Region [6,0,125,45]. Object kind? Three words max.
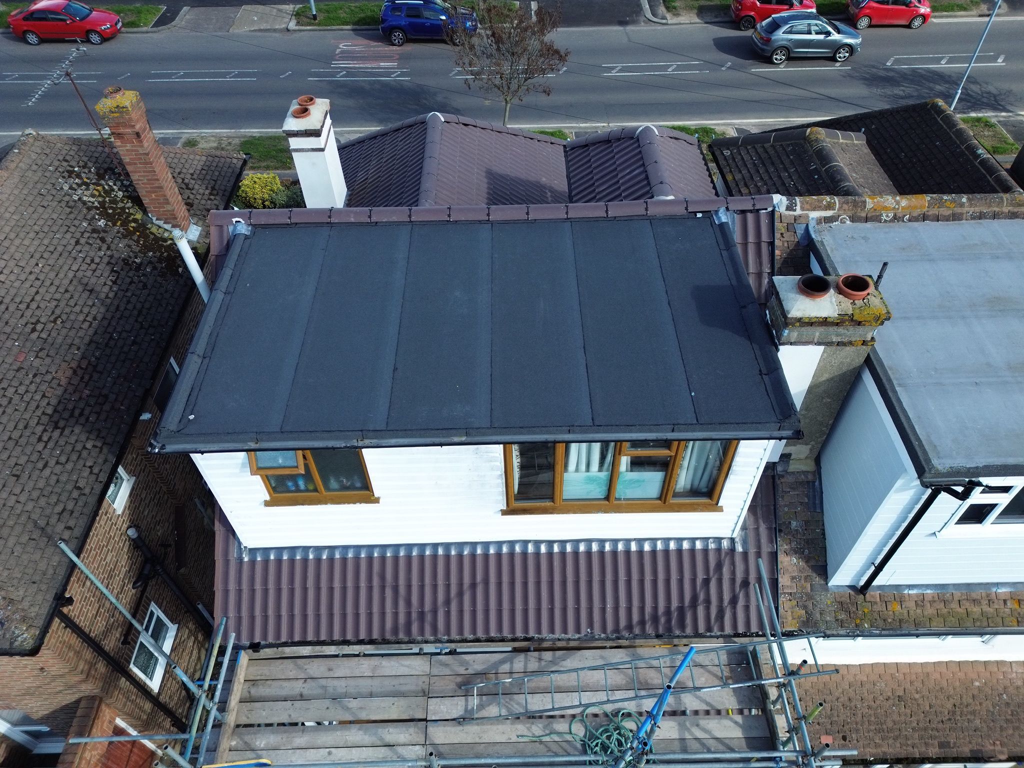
car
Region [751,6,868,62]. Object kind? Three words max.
car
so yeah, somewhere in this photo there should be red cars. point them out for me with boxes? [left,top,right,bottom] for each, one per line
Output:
[728,0,820,29]
[844,0,933,29]
[6,0,125,45]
